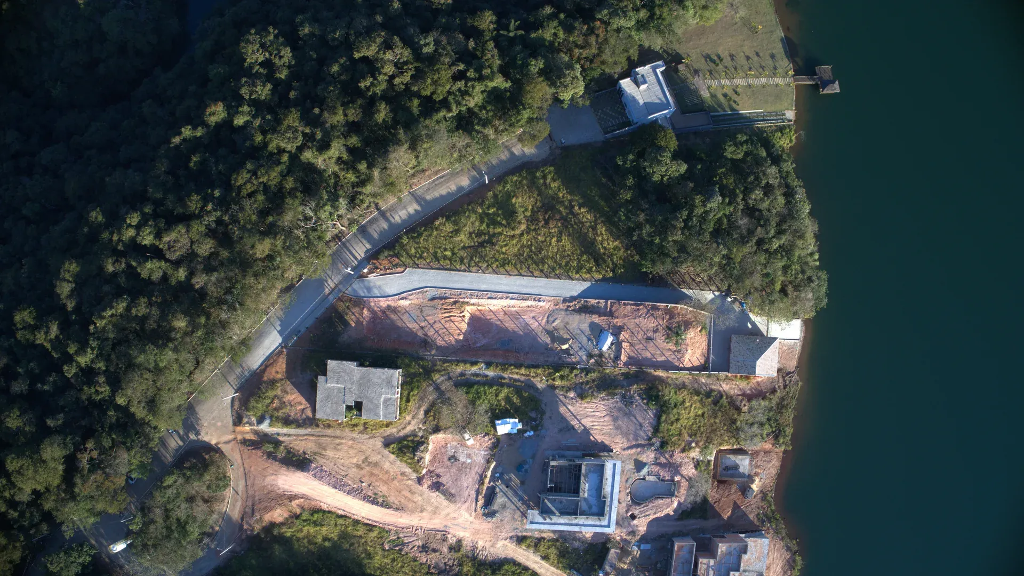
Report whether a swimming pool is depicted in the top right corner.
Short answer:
No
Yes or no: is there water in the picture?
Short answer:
Yes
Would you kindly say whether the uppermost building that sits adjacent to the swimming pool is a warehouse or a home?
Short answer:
home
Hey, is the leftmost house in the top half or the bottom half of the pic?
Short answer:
bottom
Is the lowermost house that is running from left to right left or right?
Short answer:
right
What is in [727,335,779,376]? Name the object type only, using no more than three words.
house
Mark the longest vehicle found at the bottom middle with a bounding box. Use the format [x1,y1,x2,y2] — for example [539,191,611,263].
[460,429,476,450]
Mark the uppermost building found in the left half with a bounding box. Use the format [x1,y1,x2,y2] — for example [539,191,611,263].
[316,360,403,421]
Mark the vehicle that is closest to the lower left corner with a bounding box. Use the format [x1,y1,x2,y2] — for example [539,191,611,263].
[106,537,130,554]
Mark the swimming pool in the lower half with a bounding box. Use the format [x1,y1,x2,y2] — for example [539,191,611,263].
[629,475,677,503]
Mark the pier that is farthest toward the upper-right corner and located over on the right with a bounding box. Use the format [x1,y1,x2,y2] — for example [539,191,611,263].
[793,65,835,85]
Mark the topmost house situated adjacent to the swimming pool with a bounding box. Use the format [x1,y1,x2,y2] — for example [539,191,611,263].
[527,445,621,533]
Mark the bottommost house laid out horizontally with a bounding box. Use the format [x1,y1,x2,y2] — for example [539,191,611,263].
[667,535,769,576]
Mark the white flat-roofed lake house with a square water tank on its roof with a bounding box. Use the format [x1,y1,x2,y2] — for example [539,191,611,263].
[617,61,675,129]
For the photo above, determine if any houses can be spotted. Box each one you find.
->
[316,360,403,421]
[617,61,675,129]
[727,335,779,376]
[667,535,769,576]
[527,445,621,533]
